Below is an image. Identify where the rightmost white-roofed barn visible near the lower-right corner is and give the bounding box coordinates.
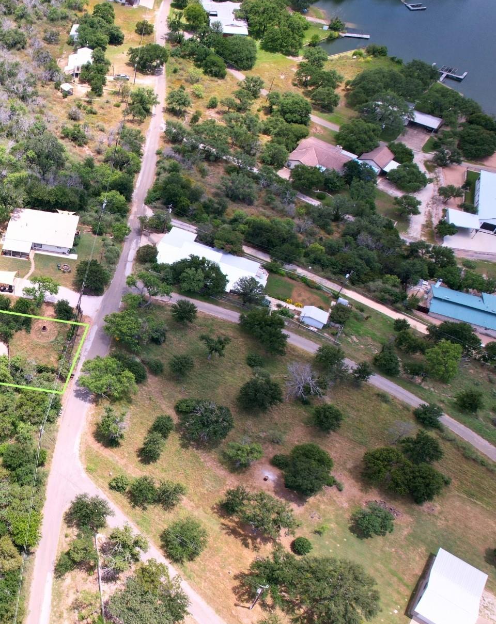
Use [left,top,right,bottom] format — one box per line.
[410,549,489,624]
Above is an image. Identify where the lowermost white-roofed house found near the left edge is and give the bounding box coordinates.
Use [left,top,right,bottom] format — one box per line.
[0,209,81,261]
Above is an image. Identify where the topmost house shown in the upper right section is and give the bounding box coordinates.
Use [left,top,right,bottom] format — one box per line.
[378,103,444,135]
